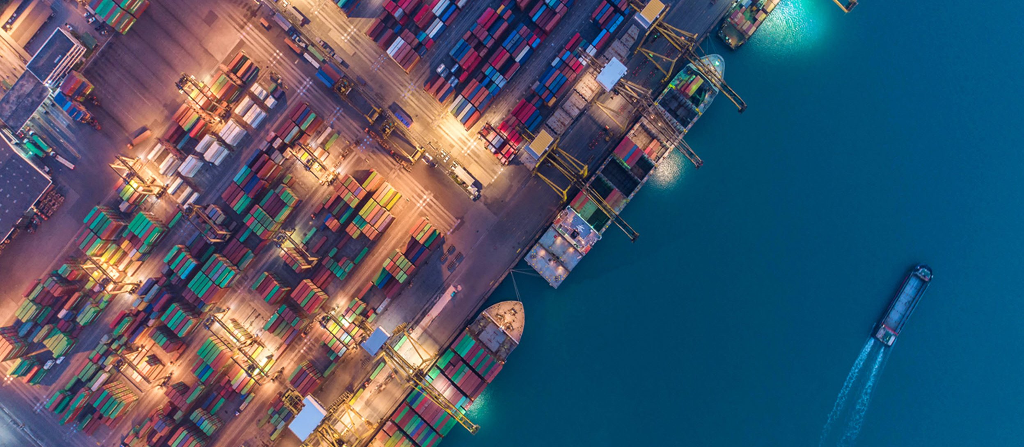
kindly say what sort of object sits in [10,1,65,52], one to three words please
shed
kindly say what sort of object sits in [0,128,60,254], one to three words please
building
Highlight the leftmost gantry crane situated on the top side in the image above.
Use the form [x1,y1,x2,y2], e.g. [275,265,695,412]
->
[108,154,168,197]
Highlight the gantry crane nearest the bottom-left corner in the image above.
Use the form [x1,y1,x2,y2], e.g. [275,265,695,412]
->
[111,346,171,393]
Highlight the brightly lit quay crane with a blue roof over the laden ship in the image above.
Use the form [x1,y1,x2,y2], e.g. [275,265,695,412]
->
[356,317,480,438]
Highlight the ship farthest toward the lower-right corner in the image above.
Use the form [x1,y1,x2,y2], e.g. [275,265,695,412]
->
[872,264,934,347]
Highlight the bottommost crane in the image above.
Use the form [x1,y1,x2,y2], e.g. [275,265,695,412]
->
[293,389,386,447]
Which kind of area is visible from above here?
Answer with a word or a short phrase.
port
